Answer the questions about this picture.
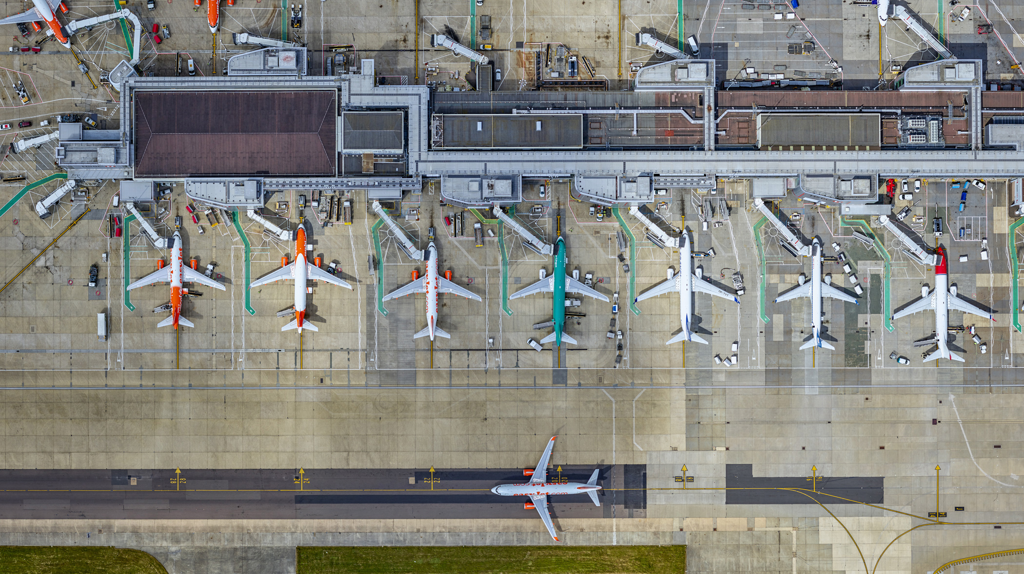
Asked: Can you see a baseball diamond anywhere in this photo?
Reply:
No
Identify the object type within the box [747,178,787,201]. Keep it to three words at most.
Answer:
shed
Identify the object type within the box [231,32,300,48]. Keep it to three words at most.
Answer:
jet bridge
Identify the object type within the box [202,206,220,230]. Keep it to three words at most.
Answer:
vehicle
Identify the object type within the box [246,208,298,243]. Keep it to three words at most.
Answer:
jet bridge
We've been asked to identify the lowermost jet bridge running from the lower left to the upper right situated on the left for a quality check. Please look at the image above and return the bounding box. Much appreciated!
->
[36,178,81,220]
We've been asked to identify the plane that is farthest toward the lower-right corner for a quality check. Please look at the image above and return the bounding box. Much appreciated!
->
[890,247,997,363]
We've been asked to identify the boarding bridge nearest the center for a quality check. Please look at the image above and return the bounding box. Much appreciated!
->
[492,206,558,257]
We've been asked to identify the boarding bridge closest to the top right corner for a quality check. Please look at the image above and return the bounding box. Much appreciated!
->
[887,4,961,59]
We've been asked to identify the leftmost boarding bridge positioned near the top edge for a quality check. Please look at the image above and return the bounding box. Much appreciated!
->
[62,6,144,69]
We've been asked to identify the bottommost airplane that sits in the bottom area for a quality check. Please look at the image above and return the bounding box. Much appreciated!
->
[491,438,603,541]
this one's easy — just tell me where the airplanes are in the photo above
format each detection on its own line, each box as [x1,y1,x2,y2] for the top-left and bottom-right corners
[384,241,481,340]
[252,223,350,333]
[632,230,738,345]
[878,0,890,26]
[126,231,225,329]
[0,0,74,47]
[491,438,603,541]
[512,236,610,346]
[890,247,997,363]
[776,238,860,349]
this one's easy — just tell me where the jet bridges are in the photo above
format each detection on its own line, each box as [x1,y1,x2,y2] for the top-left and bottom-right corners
[874,215,942,267]
[628,205,685,249]
[429,34,491,64]
[1011,206,1024,221]
[246,208,298,243]
[124,201,173,250]
[887,4,961,59]
[371,202,429,262]
[633,33,697,59]
[36,178,81,220]
[11,128,60,155]
[748,200,818,258]
[231,32,300,48]
[492,206,558,257]
[62,6,144,69]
